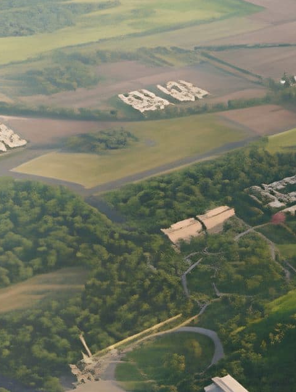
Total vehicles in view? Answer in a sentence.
There are no vehicles in this view.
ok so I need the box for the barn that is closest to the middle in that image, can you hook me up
[163,220,205,252]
